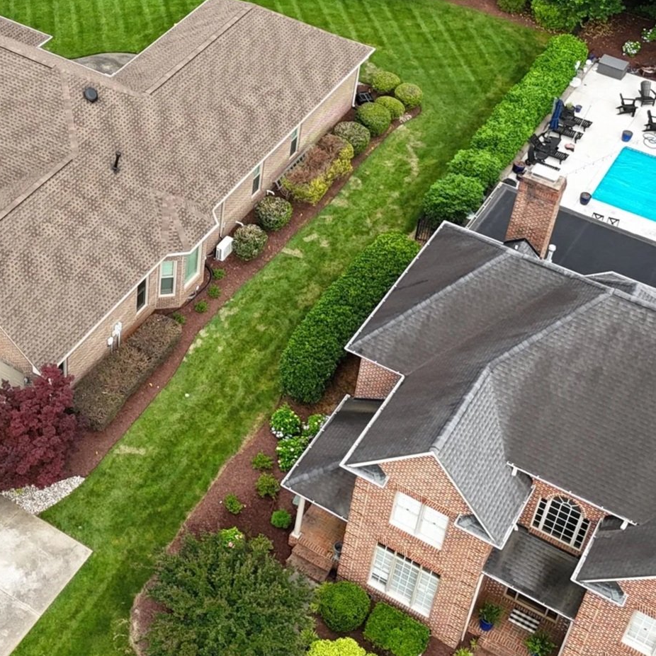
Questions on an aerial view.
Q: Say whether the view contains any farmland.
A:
No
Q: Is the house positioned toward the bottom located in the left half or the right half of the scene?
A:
right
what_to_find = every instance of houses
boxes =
[275,167,656,656]
[0,0,378,409]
